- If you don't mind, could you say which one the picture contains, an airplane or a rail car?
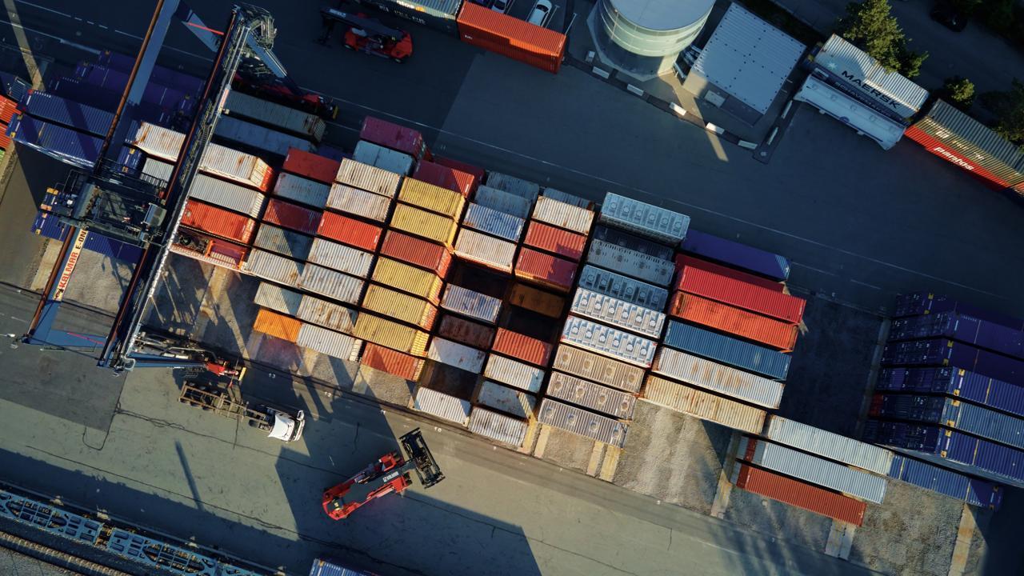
rail car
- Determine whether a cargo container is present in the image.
Yes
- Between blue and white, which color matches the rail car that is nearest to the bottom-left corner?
blue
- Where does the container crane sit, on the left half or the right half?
left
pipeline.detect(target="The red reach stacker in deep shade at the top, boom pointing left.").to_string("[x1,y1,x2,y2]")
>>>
[300,0,419,68]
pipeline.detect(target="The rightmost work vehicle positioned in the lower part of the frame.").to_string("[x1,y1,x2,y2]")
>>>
[325,428,446,523]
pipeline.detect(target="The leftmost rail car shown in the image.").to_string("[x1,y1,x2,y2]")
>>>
[0,489,106,547]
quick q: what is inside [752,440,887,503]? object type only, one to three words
shipping container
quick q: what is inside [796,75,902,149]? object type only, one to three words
trailer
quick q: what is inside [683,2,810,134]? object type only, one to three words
shed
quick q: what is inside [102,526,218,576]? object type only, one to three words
rail car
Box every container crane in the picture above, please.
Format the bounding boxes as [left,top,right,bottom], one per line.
[4,0,334,389]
